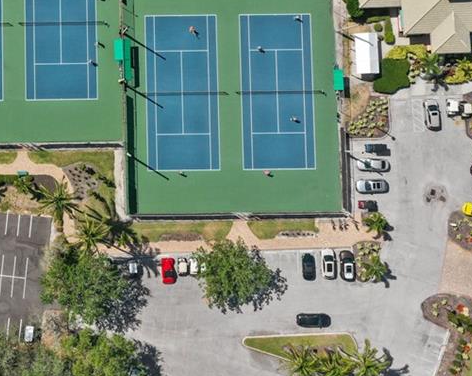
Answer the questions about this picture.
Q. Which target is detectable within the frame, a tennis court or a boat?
tennis court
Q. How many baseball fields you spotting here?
0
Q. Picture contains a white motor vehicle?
Yes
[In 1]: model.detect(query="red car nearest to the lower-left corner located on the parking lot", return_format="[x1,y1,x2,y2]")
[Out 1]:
[161,256,176,285]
